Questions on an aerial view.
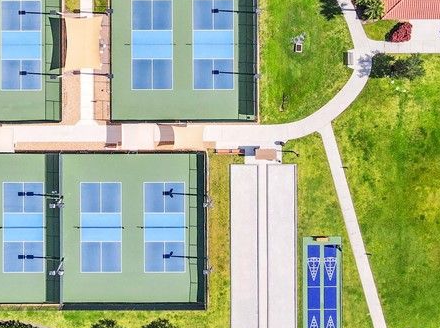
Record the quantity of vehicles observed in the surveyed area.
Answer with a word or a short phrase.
zero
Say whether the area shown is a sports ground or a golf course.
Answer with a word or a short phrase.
sports ground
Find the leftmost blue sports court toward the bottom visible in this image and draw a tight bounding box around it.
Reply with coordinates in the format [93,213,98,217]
[0,182,48,273]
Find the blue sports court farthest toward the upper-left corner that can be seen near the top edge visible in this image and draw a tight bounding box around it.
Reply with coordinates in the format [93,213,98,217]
[0,0,46,91]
